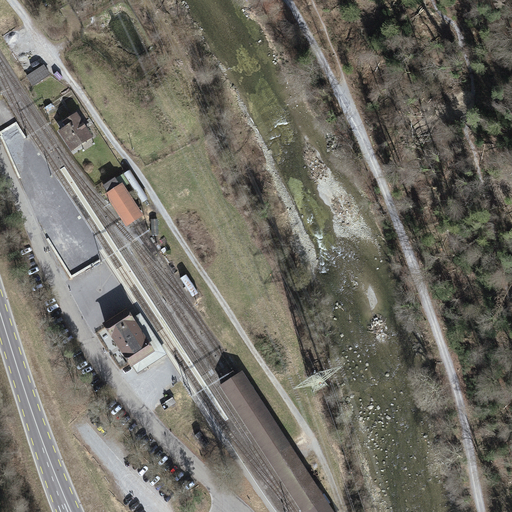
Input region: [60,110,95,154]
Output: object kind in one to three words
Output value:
house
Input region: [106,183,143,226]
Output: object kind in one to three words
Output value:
shed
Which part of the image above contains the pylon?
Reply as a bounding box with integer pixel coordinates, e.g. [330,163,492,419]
[296,366,345,391]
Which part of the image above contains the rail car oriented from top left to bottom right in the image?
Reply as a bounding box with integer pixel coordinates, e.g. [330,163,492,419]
[181,274,198,296]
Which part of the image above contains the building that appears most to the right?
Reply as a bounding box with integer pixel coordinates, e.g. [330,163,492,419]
[220,370,337,512]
